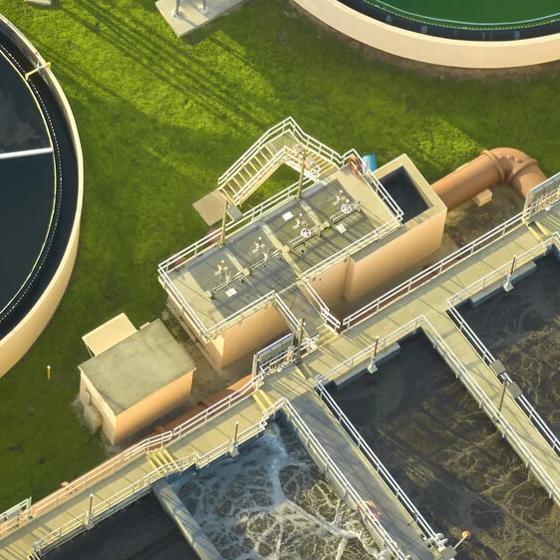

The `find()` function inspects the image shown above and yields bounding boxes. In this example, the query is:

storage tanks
[292,0,560,69]
[0,15,84,381]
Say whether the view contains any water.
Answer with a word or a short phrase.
Yes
